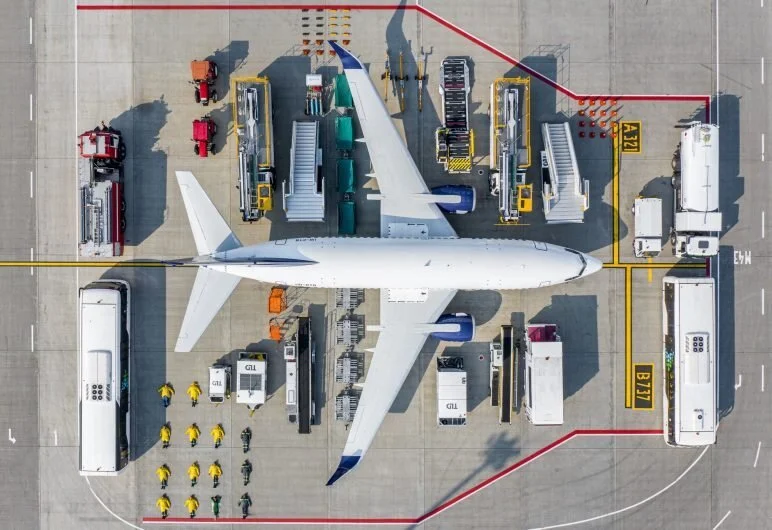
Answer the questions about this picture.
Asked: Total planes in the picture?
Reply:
one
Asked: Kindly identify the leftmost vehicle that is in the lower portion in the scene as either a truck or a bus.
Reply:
bus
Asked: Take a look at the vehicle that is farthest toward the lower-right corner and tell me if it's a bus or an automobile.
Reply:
bus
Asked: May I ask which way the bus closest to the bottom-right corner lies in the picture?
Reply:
vertically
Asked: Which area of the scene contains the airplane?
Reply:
center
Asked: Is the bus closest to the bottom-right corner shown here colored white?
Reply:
Yes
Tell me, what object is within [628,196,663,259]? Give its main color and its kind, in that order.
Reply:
white van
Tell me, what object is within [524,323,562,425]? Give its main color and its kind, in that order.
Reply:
white truck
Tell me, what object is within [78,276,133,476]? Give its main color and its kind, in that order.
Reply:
white bus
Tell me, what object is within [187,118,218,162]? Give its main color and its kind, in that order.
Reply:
red work vehicle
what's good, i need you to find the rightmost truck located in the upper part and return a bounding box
[666,121,722,261]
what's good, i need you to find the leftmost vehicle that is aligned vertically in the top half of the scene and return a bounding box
[78,120,127,257]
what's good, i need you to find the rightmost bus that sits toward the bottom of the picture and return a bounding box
[662,275,716,449]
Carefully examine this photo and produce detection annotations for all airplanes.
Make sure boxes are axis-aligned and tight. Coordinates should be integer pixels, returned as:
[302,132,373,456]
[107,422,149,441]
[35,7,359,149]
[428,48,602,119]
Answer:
[160,41,601,487]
